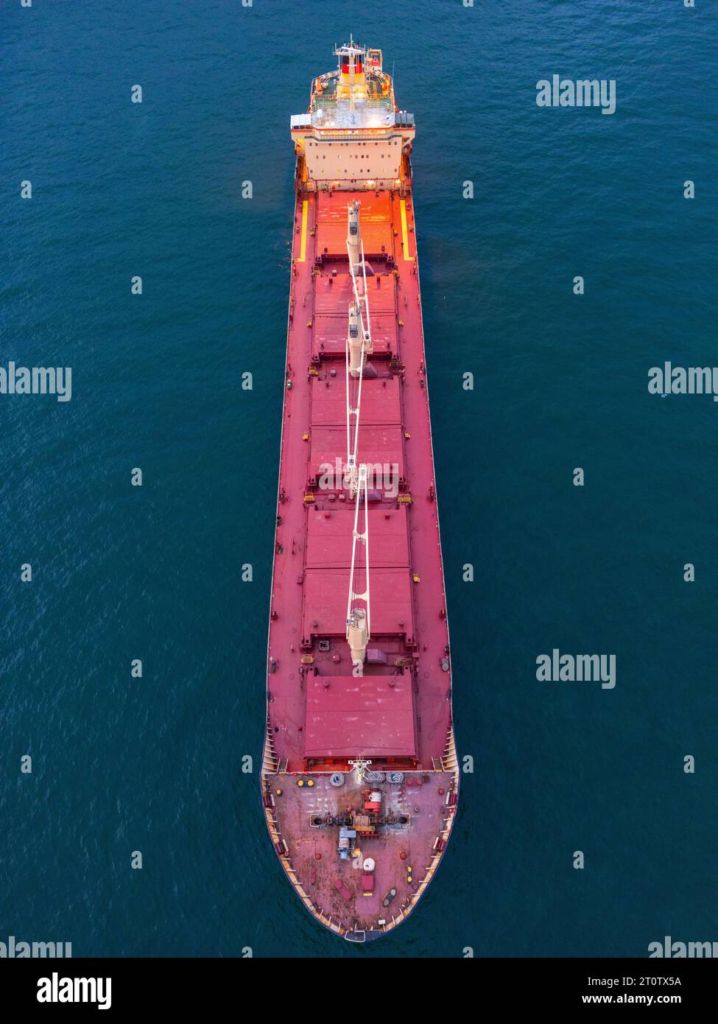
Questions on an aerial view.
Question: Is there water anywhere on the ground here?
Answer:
Yes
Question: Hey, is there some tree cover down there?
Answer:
No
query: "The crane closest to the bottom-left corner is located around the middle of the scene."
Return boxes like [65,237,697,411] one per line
[346,465,371,671]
